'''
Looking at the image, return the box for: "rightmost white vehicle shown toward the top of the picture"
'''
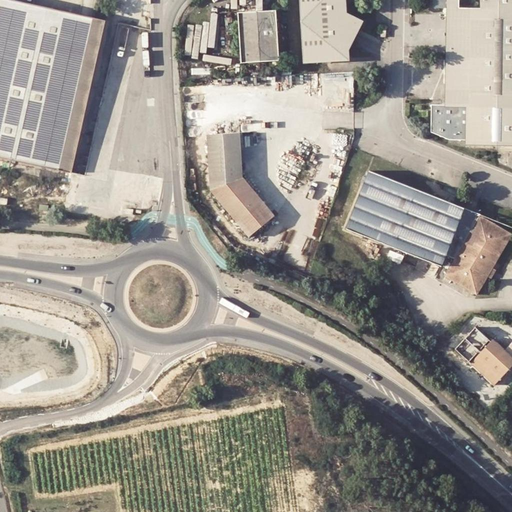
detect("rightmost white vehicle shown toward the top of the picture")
[306,182,318,199]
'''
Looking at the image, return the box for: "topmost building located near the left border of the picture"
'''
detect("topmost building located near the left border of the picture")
[0,0,105,172]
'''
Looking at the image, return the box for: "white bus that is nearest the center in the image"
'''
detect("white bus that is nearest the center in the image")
[220,298,250,318]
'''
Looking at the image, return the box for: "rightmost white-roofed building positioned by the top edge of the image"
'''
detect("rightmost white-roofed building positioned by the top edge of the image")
[445,0,512,146]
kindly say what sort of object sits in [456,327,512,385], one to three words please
house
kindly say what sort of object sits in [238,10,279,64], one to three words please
house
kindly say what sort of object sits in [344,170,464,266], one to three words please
building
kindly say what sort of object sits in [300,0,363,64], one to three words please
building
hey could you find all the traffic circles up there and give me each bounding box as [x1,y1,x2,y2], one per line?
[102,238,217,354]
